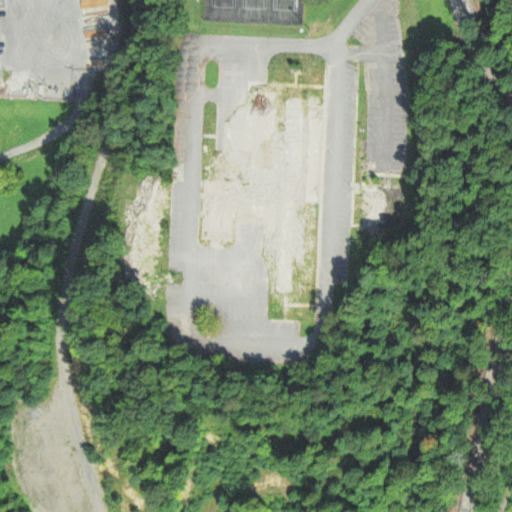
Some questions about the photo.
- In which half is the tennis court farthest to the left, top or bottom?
top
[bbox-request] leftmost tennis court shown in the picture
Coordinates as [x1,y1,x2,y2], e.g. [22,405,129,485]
[204,0,240,23]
